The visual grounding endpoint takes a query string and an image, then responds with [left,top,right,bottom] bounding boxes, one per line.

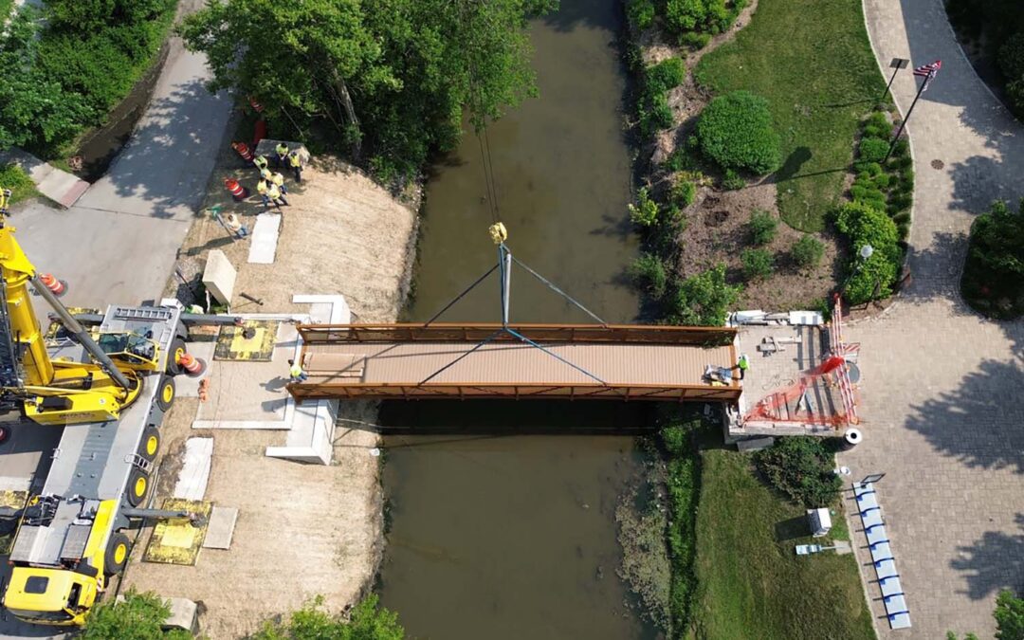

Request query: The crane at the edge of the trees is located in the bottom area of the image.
[0,225,257,631]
